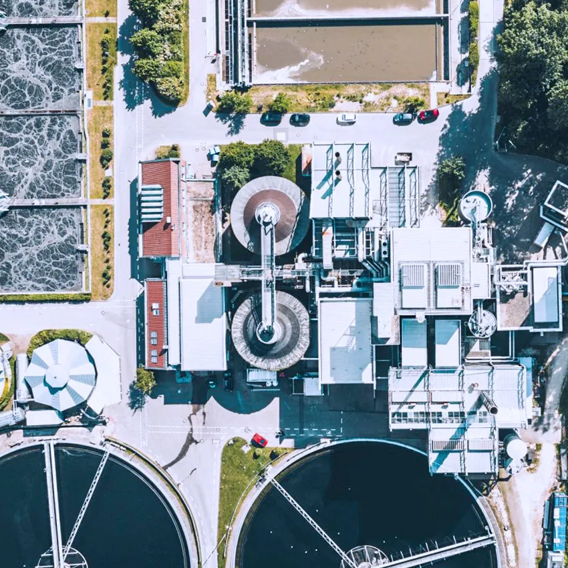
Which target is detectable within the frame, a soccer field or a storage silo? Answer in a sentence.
It is a storage silo that can be seen here.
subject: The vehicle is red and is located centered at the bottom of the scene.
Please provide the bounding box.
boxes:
[251,434,268,448]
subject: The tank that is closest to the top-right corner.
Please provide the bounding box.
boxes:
[455,190,493,230]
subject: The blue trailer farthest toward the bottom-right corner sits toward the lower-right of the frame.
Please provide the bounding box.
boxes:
[550,491,567,552]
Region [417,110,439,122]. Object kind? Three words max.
vehicle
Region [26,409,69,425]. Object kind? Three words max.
shed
